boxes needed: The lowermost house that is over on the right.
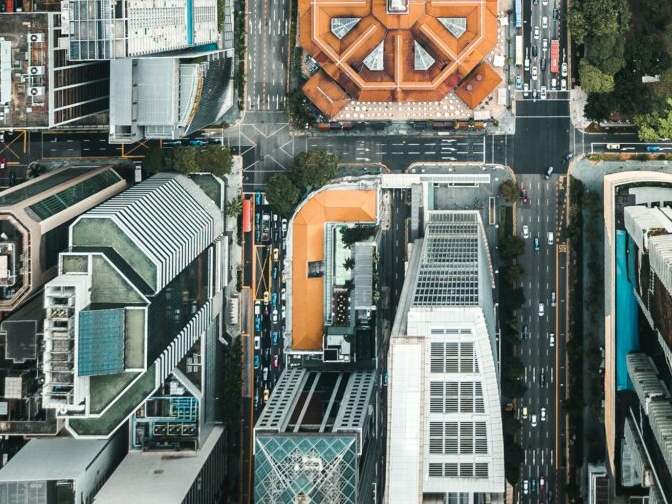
[588,465,611,504]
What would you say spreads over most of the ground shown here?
buildings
